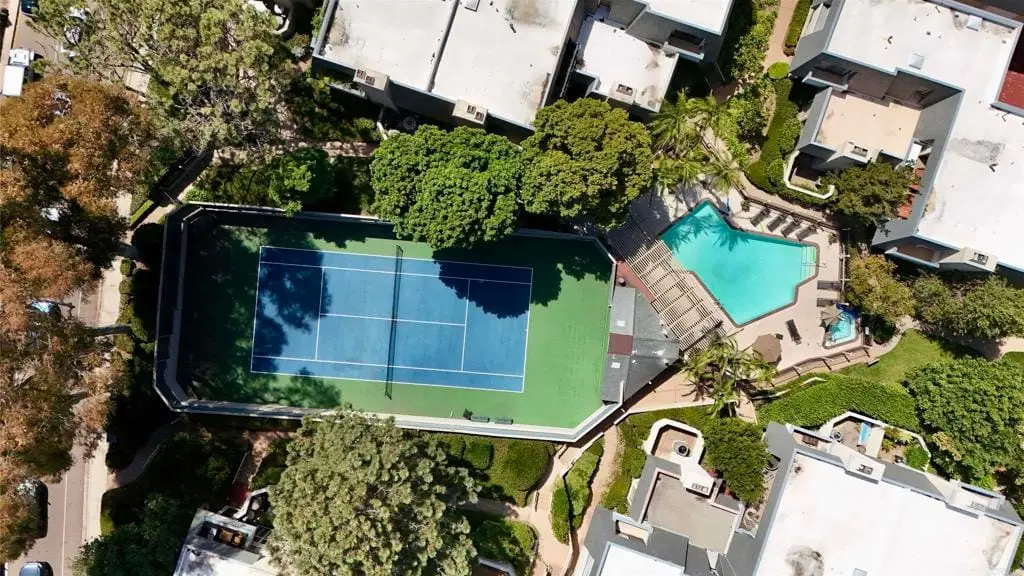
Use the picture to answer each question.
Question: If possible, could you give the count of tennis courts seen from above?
one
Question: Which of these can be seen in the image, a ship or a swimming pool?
swimming pool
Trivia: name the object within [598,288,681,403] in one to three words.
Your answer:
building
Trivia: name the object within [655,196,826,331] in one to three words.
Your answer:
swimming pool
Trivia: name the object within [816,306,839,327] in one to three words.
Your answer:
umbrella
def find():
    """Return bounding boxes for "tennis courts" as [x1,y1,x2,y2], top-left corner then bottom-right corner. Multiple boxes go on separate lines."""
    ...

[180,215,610,426]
